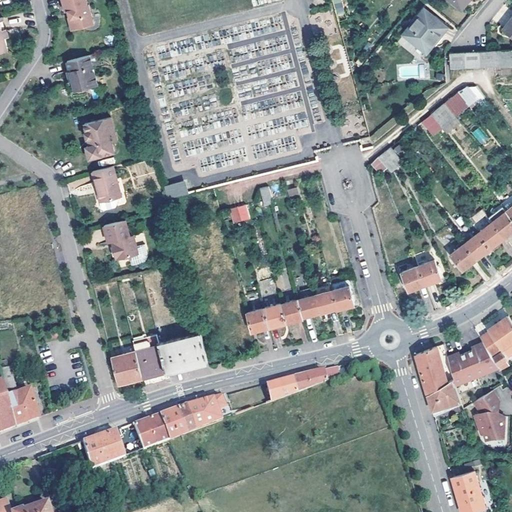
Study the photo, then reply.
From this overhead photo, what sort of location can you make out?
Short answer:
residential area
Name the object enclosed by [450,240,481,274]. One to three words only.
house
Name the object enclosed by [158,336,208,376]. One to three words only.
building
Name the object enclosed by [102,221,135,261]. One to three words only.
house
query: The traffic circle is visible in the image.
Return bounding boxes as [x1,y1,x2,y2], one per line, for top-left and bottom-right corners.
[368,317,412,362]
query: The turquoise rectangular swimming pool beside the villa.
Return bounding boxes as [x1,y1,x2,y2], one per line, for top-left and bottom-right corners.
[397,62,430,80]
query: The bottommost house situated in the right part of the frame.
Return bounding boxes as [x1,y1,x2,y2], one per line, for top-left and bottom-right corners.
[450,472,488,512]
